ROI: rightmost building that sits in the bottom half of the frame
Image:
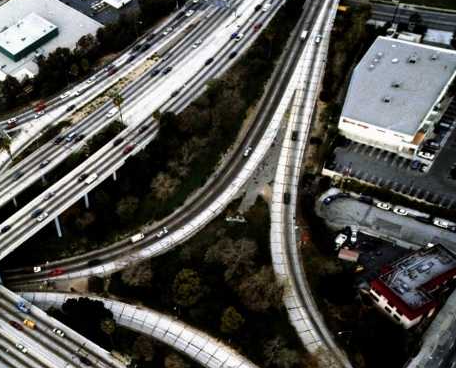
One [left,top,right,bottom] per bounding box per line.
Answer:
[367,250,455,318]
